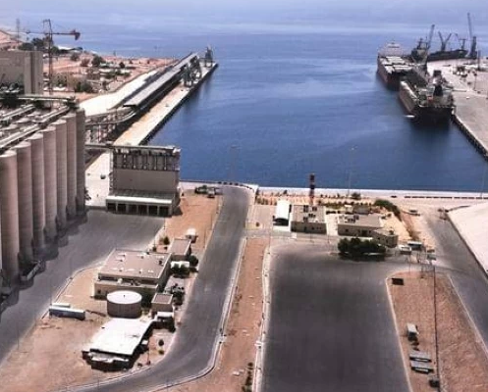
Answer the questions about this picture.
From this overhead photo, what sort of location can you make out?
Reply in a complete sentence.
The area seen from above is a port.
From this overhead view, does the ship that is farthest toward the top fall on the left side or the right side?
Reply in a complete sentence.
You can find the ship that is farthest toward the top on the right side of the picture.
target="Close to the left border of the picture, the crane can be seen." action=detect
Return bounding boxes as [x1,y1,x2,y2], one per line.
[10,21,81,114]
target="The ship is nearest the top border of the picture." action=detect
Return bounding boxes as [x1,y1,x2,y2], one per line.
[401,17,472,69]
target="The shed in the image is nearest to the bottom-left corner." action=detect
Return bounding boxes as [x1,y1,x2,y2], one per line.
[89,312,150,369]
